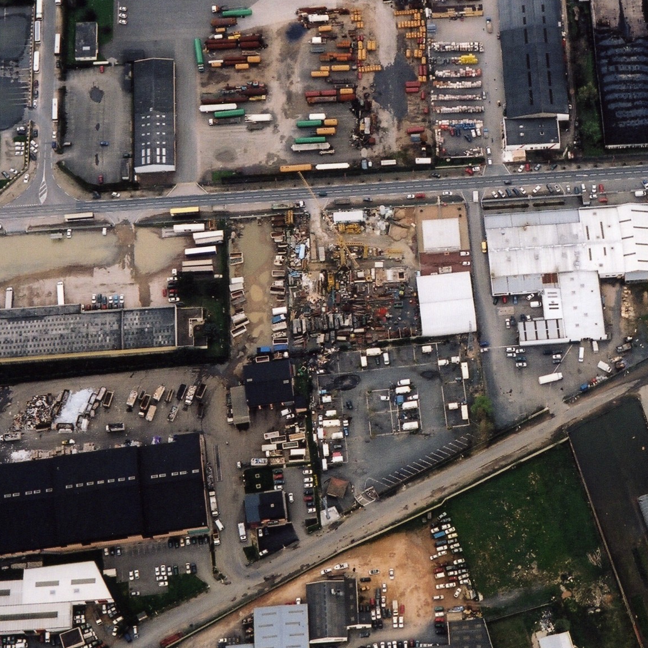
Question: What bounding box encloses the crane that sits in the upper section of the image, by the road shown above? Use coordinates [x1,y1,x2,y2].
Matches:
[298,171,363,272]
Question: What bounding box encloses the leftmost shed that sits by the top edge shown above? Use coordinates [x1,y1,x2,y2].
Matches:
[75,21,99,61]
